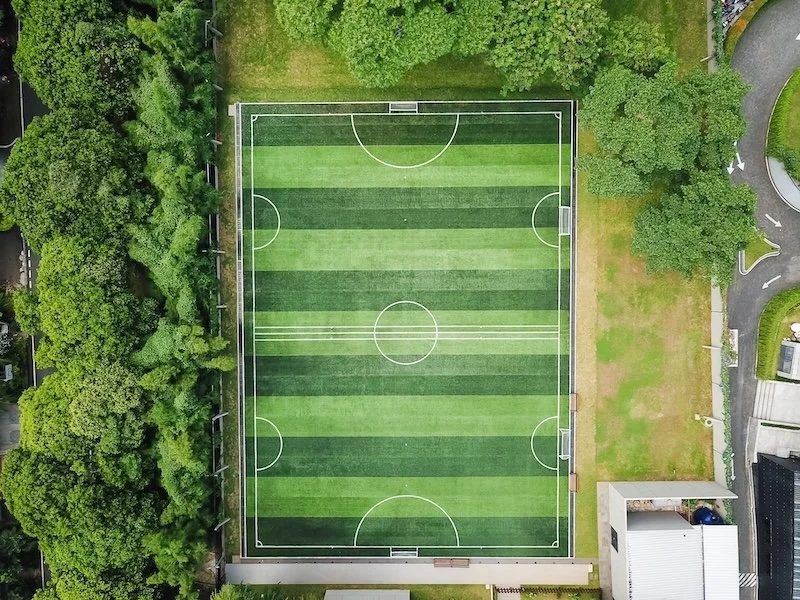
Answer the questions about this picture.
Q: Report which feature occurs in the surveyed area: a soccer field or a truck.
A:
soccer field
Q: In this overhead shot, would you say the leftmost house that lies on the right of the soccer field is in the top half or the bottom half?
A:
bottom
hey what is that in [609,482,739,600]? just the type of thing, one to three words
house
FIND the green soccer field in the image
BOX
[235,100,578,559]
